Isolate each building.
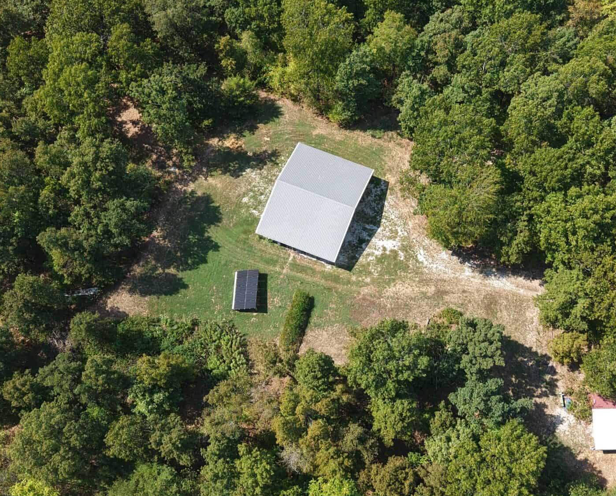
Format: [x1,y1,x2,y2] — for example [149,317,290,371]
[587,390,616,453]
[255,142,376,267]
